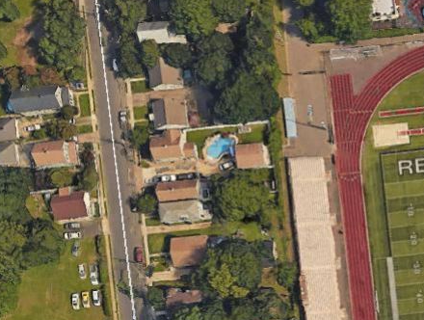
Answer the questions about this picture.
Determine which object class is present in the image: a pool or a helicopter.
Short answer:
pool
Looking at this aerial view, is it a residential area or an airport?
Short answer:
residential area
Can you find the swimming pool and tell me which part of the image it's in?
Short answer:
center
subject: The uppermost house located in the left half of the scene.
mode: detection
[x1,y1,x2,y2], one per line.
[138,22,175,44]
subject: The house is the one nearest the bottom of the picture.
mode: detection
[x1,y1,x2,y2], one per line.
[166,286,214,305]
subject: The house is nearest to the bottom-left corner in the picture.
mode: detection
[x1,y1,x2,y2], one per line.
[42,186,98,221]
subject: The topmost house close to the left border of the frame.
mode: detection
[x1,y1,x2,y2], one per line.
[0,85,81,115]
